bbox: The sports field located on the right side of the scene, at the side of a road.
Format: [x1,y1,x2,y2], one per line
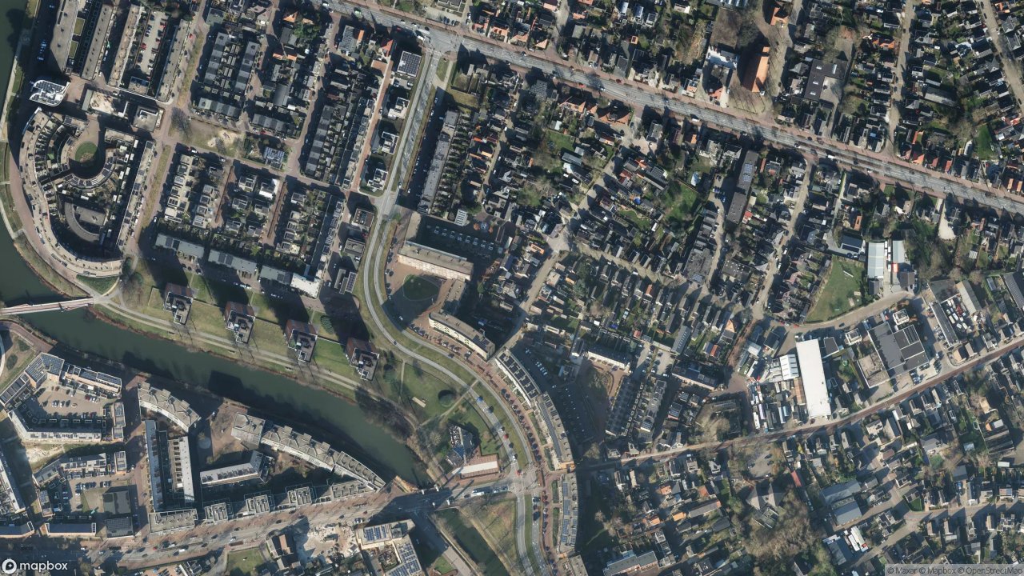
[805,254,867,321]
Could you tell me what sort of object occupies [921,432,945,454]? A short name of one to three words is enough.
house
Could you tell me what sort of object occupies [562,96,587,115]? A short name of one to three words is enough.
house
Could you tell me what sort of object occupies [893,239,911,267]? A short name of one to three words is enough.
building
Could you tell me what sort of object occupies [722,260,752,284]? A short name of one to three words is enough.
building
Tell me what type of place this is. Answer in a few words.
residential area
